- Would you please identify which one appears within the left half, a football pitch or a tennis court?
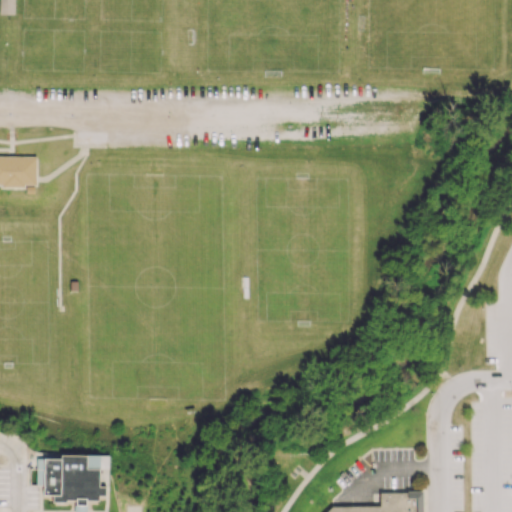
football pitch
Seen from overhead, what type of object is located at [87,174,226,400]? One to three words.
soccer field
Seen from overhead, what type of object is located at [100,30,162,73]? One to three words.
soccer field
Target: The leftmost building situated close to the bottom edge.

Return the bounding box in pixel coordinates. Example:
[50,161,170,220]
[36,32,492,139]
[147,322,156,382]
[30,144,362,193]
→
[37,456,111,512]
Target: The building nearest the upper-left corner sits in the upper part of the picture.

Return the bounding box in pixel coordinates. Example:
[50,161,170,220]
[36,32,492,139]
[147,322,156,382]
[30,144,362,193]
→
[0,155,36,188]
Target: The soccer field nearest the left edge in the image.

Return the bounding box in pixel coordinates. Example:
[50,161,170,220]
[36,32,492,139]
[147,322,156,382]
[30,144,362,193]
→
[0,240,50,364]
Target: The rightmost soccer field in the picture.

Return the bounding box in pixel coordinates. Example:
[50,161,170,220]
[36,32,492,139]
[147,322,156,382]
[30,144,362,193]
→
[368,0,495,69]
